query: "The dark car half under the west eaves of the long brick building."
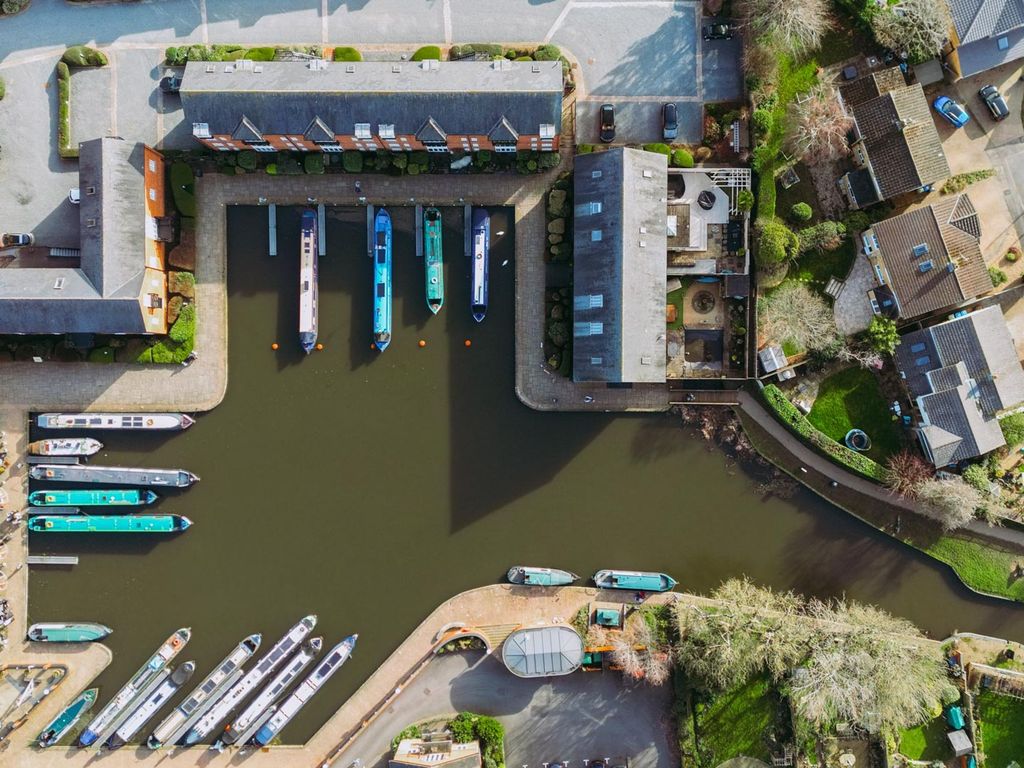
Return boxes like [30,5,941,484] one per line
[155,69,187,88]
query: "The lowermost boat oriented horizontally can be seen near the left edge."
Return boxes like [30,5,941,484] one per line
[26,621,114,642]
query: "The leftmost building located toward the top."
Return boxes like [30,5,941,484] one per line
[0,134,178,348]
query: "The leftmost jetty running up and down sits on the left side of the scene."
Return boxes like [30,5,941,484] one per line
[267,206,279,255]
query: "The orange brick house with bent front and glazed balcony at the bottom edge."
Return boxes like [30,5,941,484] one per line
[380,719,481,768]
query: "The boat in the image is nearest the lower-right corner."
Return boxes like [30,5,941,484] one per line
[594,570,679,590]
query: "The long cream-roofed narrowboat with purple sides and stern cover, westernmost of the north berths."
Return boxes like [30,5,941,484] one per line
[300,207,319,355]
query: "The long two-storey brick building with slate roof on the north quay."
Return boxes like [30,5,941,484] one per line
[181,60,563,155]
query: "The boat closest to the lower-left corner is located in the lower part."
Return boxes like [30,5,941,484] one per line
[36,688,100,750]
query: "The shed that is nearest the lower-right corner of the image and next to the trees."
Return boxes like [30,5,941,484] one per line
[941,727,971,754]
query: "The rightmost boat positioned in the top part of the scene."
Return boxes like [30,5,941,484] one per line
[470,208,489,324]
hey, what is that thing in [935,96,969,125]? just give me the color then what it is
blue car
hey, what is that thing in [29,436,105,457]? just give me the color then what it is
white boat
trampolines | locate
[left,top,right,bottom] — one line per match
[844,428,874,451]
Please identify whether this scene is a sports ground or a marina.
marina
